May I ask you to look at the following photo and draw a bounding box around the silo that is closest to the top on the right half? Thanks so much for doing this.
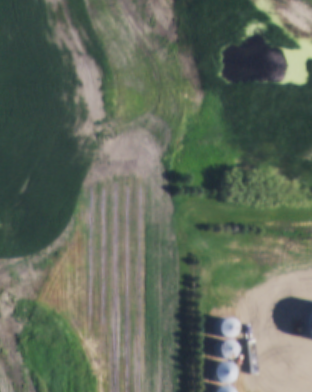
[218,317,242,338]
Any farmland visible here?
Yes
